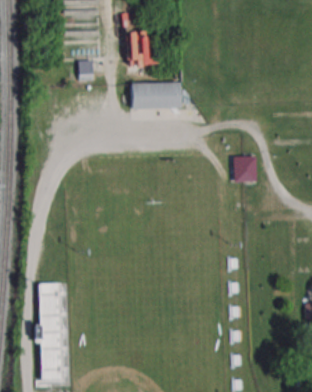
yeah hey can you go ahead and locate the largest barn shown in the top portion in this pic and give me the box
[130,83,182,108]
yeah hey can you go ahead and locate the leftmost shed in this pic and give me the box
[78,60,94,82]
